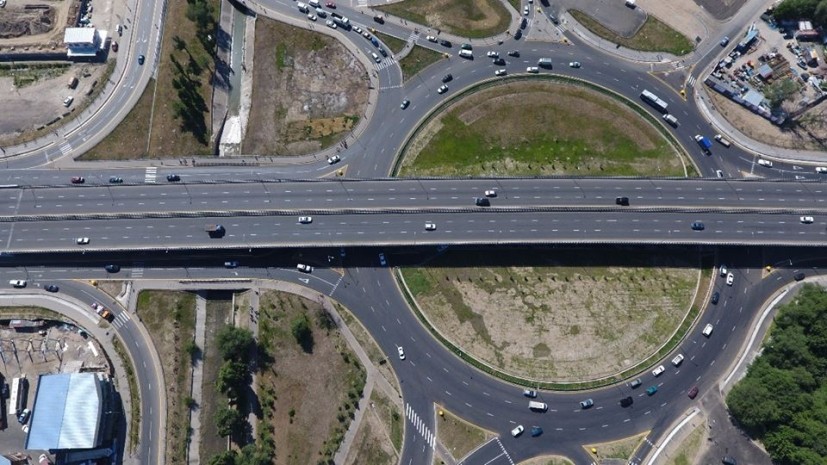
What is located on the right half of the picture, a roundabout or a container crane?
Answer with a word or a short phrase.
roundabout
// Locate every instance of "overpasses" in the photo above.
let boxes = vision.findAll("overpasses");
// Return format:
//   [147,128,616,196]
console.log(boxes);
[0,176,827,253]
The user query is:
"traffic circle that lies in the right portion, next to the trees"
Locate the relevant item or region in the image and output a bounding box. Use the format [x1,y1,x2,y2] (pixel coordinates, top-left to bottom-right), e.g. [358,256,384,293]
[335,40,761,445]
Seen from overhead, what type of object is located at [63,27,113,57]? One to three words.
building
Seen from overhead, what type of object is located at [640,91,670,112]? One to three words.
bus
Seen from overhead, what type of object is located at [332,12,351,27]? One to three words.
vehicle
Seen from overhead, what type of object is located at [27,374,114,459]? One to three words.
building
